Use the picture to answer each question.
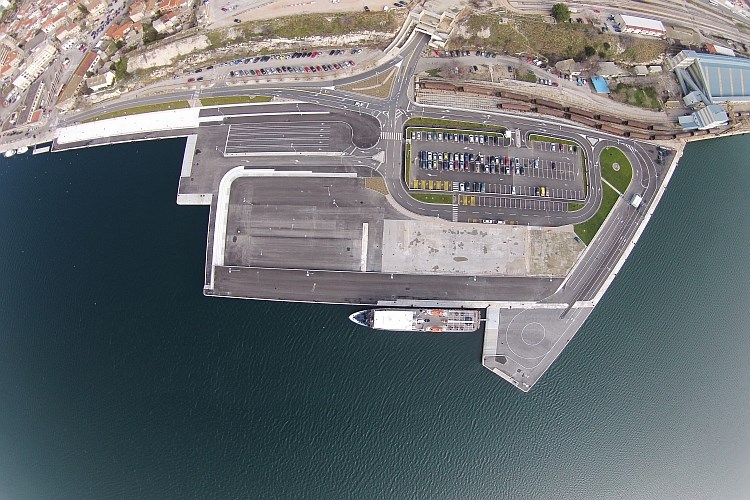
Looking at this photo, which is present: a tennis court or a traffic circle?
traffic circle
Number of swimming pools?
zero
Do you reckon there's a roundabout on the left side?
No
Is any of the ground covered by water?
Yes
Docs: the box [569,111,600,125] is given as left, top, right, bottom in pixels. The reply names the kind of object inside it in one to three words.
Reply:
rail car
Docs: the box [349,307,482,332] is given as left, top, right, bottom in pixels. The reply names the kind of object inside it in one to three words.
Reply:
ship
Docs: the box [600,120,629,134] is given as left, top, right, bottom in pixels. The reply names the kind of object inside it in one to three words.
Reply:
rail car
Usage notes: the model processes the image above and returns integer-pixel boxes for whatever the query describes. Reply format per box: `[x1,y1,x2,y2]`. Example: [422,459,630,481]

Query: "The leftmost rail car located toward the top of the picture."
[423,78,458,91]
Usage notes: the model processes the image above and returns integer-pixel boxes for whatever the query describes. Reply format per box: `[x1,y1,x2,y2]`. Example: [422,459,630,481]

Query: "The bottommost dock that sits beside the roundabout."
[483,288,593,391]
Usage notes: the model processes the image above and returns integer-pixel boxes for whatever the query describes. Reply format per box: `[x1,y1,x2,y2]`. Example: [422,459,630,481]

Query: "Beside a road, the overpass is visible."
[384,9,455,61]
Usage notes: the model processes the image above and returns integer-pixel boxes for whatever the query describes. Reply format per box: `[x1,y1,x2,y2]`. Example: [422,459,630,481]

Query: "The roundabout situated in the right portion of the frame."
[574,146,634,244]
